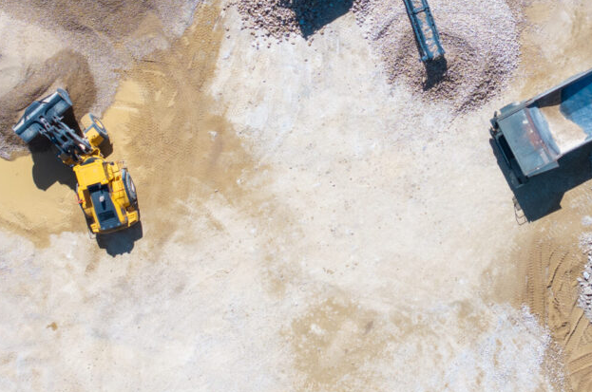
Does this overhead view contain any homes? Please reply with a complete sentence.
No, there's no home here.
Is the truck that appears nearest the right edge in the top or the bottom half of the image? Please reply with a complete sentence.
The truck that appears nearest the right edge is in the top half of the image.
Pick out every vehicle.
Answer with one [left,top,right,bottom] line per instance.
[16,87,140,239]
[492,69,592,177]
